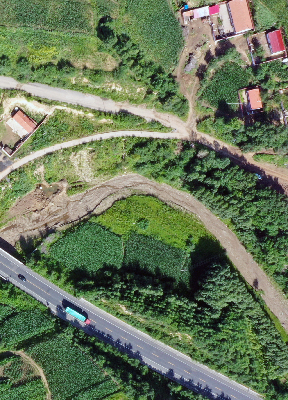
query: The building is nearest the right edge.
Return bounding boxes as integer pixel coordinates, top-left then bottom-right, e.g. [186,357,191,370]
[264,31,285,56]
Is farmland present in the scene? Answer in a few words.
Yes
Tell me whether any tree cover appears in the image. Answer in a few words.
Yes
